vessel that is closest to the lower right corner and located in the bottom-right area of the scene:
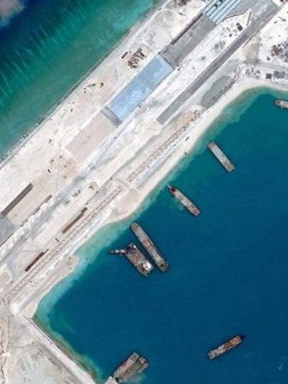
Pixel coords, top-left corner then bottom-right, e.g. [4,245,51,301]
[205,335,245,358]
